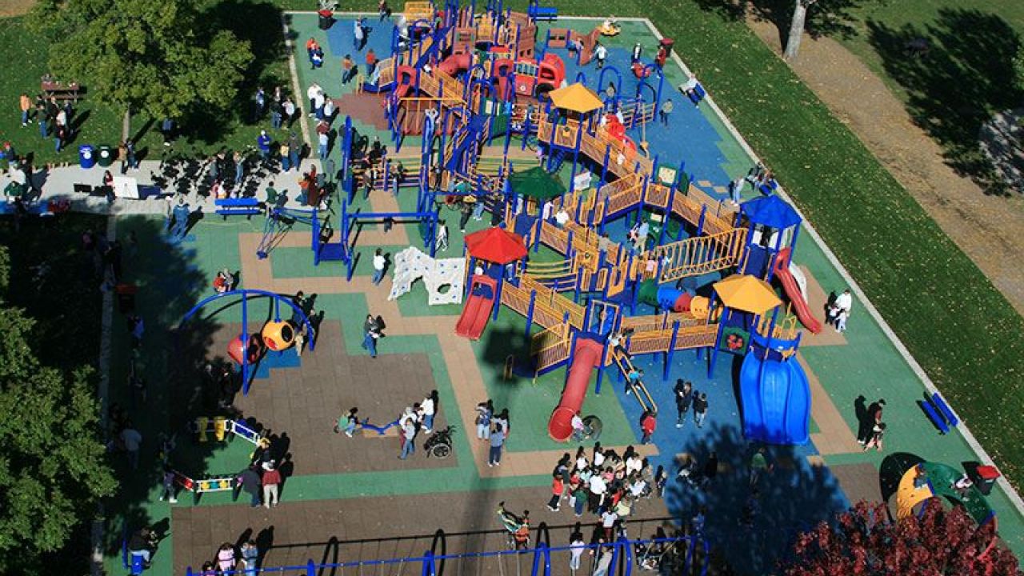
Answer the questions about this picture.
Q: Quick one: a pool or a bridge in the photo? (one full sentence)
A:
The one in the frame is a bridge.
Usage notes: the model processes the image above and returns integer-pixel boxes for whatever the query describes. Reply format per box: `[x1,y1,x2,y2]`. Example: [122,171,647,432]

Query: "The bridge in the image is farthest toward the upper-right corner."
[648,229,756,282]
